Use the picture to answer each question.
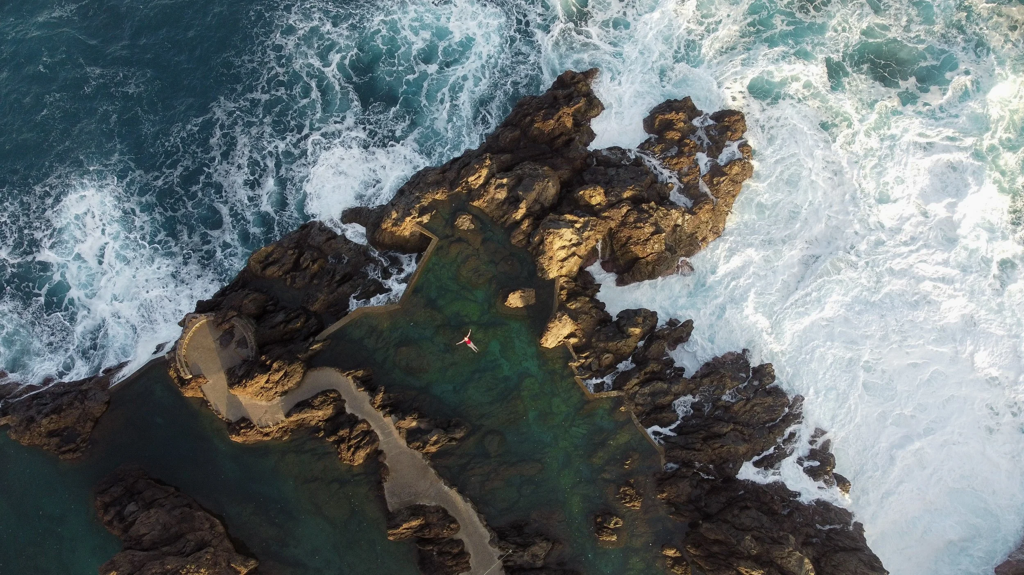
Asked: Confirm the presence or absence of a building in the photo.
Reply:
No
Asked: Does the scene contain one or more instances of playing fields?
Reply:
No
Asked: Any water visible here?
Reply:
Yes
